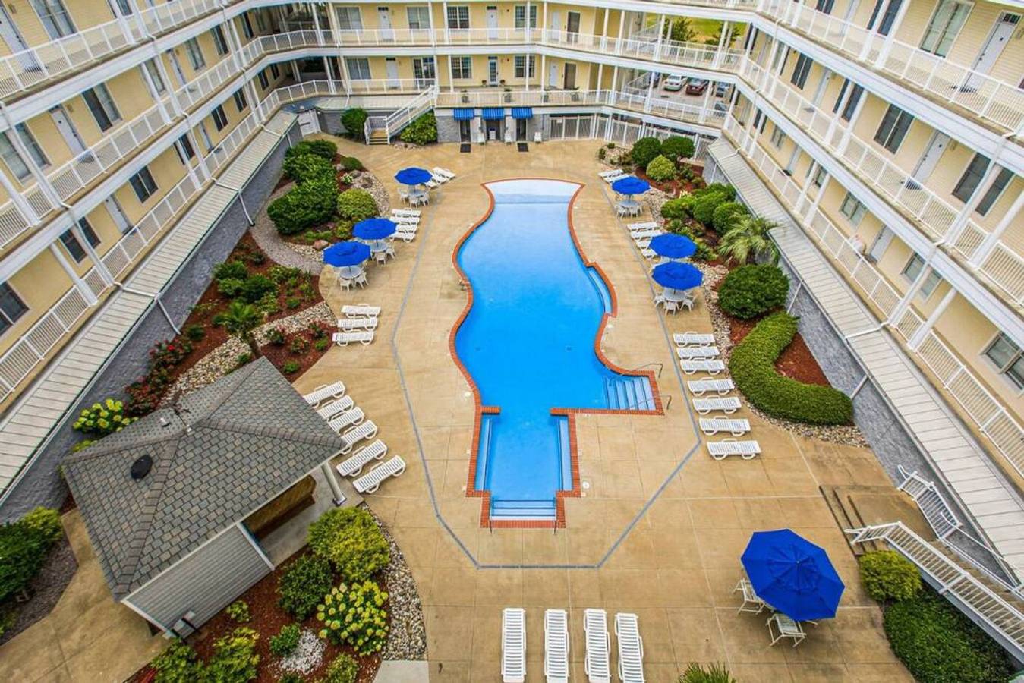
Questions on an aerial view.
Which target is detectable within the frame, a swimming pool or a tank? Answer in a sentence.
There is a swimming pool in the scene.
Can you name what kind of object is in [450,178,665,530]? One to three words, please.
swimming pool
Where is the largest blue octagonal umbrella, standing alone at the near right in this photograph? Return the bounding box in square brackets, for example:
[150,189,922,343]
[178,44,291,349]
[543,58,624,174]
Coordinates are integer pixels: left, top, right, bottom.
[739,529,847,625]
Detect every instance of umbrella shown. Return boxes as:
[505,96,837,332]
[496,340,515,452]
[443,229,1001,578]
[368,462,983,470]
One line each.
[353,218,398,247]
[612,177,651,205]
[394,167,432,195]
[321,242,370,274]
[650,235,695,261]
[653,262,704,295]
[739,529,847,625]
